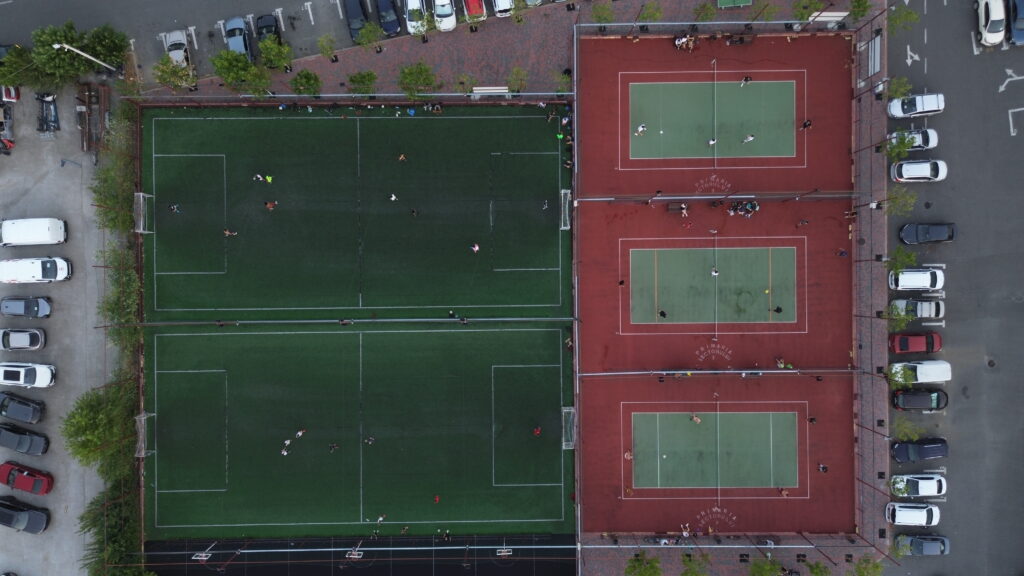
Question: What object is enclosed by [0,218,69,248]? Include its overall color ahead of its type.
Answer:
white vehicle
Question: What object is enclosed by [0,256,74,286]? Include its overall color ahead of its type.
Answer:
white vehicle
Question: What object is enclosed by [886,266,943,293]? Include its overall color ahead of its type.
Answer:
white car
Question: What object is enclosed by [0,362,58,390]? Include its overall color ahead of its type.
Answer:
white car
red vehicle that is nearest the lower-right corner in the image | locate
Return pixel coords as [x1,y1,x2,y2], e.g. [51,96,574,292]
[885,330,942,357]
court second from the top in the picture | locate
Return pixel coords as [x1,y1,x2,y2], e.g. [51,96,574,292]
[579,197,854,371]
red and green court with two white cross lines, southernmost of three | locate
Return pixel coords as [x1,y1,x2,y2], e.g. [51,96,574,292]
[580,371,856,534]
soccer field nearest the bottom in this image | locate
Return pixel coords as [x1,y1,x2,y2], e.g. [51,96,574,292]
[143,318,573,541]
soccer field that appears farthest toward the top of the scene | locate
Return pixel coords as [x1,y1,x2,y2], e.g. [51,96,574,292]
[140,103,573,323]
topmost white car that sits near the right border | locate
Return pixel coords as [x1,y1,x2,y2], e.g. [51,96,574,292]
[972,0,1009,49]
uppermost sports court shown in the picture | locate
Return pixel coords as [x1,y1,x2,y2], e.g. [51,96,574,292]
[579,35,852,198]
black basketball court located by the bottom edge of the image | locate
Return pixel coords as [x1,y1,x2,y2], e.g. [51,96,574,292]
[147,535,573,576]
